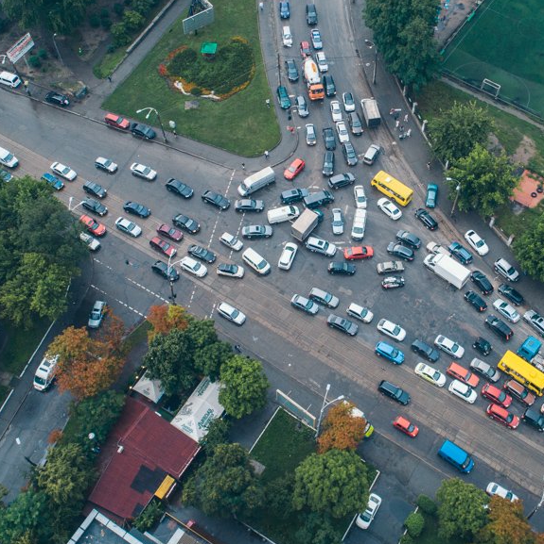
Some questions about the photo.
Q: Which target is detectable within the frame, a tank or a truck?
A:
truck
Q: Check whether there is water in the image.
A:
No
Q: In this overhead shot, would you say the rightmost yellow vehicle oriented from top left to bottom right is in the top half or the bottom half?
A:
bottom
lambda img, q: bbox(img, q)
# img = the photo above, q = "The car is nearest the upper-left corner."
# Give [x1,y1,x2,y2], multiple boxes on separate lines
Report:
[0,71,23,89]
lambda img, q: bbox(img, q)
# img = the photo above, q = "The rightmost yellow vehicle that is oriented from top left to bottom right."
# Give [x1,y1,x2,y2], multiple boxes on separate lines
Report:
[497,351,544,399]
